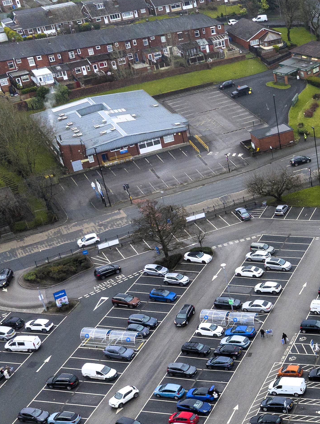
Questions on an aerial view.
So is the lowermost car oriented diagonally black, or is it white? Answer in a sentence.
The lowermost car oriented diagonally is white.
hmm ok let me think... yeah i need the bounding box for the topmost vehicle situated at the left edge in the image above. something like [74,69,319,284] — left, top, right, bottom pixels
[0,268,15,287]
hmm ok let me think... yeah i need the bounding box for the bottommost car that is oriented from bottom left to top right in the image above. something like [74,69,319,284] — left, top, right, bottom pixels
[107,385,140,410]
